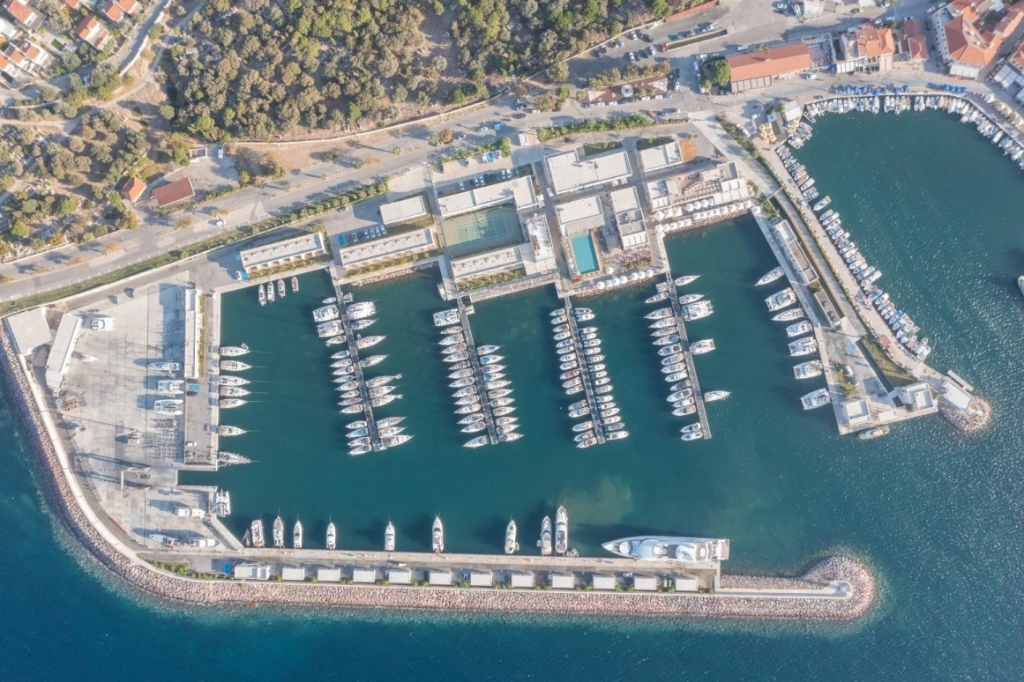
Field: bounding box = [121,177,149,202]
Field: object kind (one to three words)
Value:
house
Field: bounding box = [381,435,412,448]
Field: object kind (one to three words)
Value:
boat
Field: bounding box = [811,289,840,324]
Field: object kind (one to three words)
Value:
building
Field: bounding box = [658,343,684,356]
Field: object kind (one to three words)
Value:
boat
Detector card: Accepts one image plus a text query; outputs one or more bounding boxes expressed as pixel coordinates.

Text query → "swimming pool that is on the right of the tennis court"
[563,230,606,285]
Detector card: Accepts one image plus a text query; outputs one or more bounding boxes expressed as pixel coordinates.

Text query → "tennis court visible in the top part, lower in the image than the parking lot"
[442,202,522,258]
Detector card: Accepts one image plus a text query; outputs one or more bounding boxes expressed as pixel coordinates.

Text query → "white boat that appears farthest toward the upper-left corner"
[92,318,117,330]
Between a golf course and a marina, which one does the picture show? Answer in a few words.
marina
